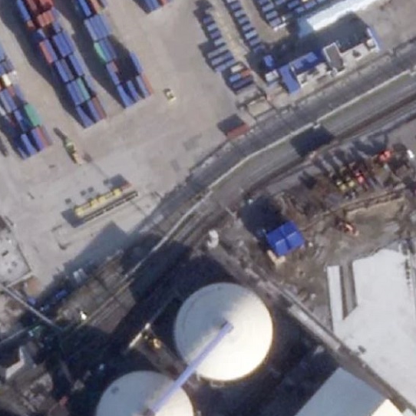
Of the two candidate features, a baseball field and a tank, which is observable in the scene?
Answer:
tank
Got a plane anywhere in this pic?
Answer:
No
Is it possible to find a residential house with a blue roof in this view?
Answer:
Yes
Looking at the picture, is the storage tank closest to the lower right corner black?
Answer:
No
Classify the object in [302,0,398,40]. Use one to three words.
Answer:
hangar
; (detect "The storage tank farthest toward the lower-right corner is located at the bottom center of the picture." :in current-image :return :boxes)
[173,284,276,387]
